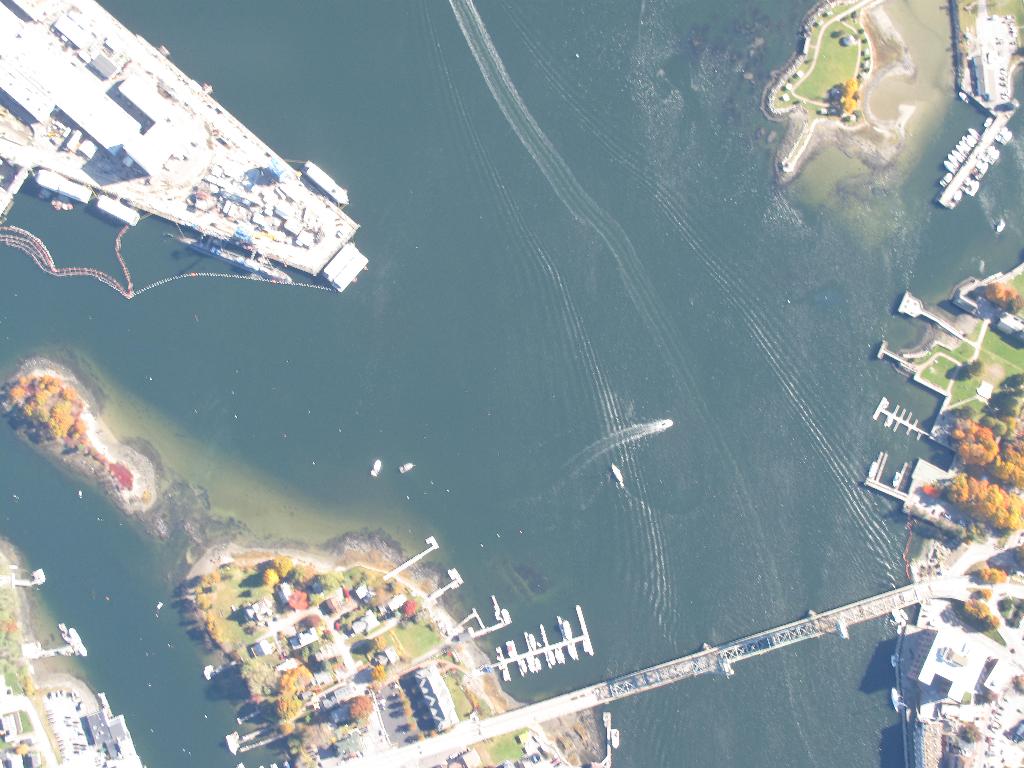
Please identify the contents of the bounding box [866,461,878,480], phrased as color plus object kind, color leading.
white boat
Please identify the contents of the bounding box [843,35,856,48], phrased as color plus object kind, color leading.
white gazebo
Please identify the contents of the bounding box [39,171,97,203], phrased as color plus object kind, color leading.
white ship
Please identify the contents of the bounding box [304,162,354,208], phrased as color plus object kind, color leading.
white ship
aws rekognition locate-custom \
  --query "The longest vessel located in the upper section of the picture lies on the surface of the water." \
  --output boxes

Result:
[174,236,295,282]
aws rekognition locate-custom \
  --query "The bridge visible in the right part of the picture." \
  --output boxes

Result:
[602,583,920,701]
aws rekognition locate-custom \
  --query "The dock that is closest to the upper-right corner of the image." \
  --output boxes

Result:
[936,110,1008,208]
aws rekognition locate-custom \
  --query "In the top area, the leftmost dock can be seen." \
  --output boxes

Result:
[0,165,32,221]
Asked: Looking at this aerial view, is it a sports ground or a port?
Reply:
port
